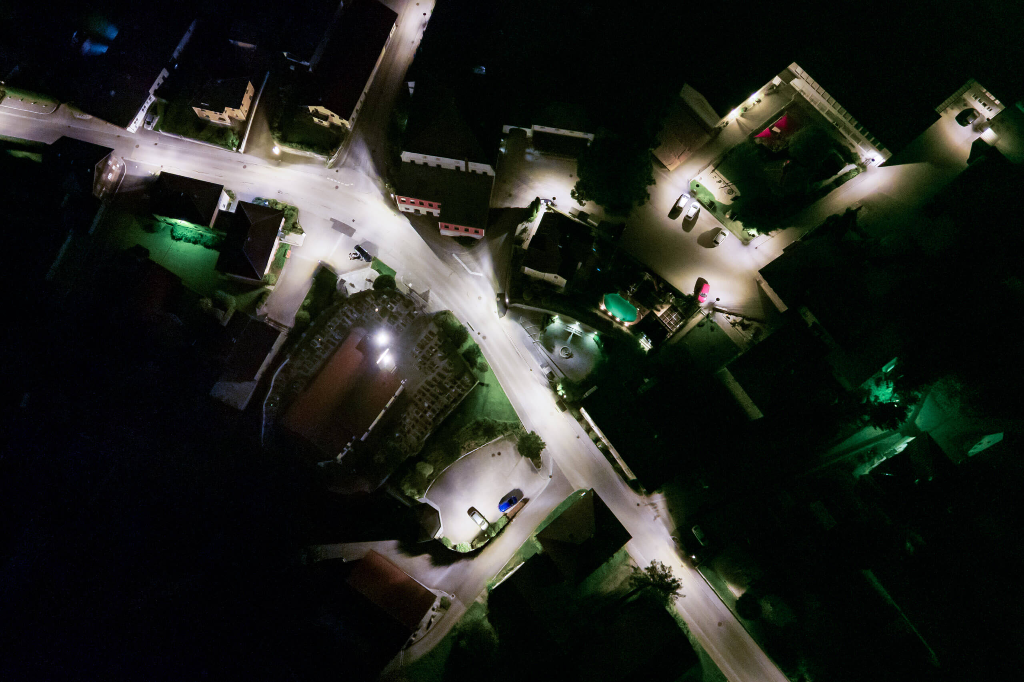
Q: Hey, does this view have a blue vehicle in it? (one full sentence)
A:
Yes, the picture does show a blue vehicle.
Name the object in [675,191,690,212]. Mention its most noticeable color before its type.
white vehicle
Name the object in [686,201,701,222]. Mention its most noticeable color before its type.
white vehicle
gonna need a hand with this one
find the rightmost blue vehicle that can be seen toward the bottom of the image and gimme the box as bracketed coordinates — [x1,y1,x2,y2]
[496,494,519,514]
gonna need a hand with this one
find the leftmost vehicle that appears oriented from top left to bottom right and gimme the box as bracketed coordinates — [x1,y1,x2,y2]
[354,243,373,263]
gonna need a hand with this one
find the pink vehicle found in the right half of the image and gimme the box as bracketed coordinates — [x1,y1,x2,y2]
[697,282,711,304]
